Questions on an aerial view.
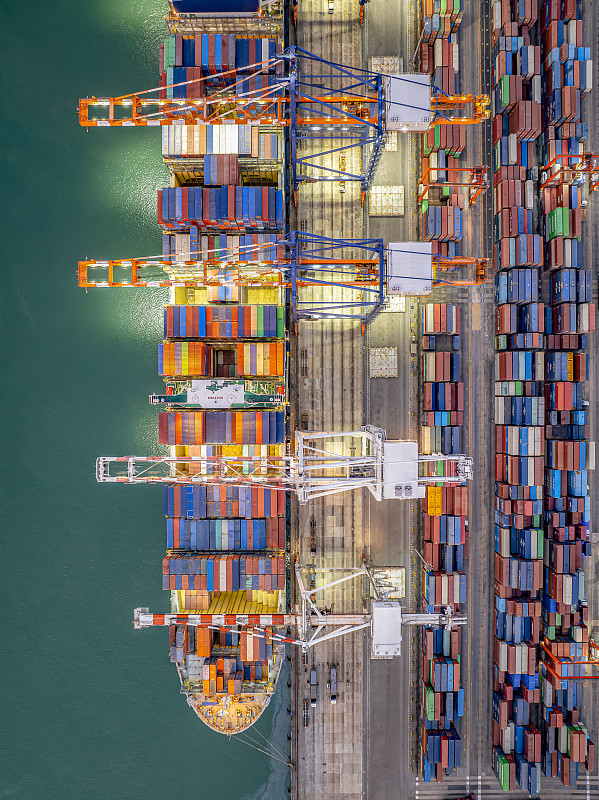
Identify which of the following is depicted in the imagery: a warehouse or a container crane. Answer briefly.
container crane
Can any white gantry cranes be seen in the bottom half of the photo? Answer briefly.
Yes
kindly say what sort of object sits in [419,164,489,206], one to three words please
container crane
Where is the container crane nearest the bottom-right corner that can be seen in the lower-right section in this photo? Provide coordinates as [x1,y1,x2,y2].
[540,638,599,685]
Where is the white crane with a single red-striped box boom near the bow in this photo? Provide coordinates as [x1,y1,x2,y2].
[131,551,469,655]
